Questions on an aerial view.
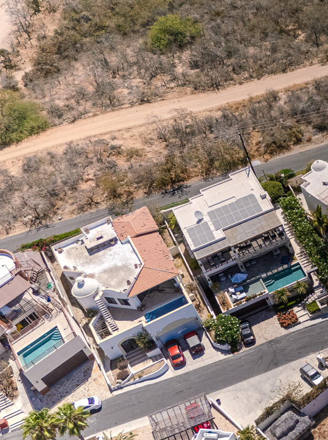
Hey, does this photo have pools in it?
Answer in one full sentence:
Yes, looking at the shot, I can spot a pool.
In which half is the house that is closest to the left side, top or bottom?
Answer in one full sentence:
You can find the house that is closest to the left side in the bottom half.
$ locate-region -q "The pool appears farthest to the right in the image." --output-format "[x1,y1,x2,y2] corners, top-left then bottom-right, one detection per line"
[259,261,309,295]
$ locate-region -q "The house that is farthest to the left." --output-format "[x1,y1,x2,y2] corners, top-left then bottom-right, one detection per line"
[0,249,93,390]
